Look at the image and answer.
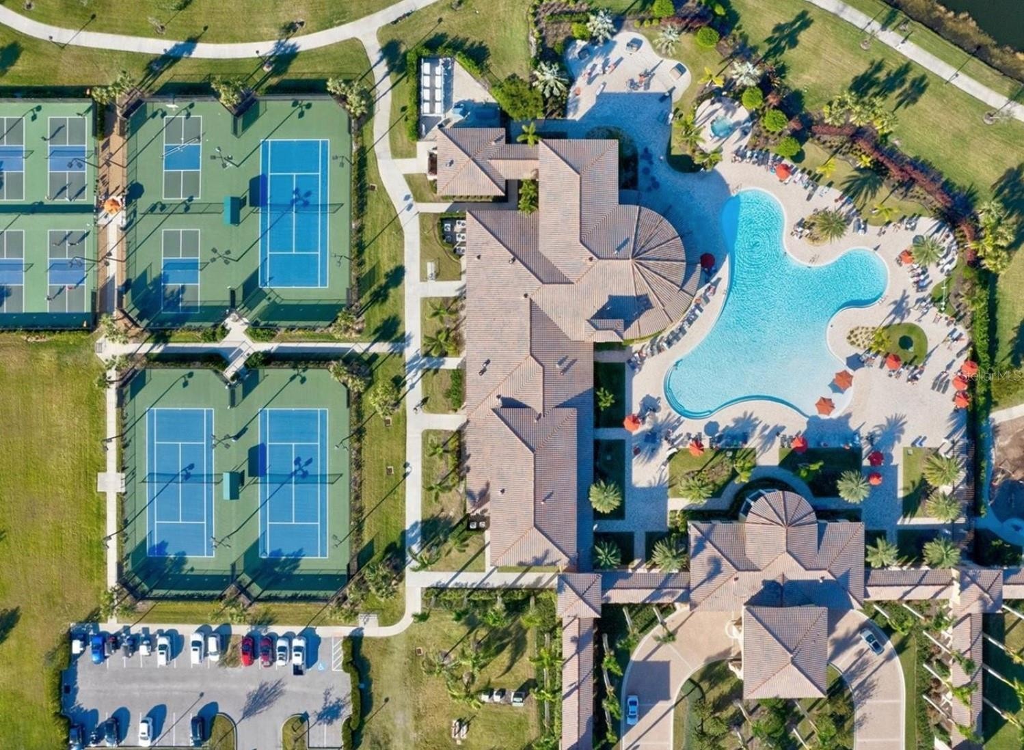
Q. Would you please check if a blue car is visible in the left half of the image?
Yes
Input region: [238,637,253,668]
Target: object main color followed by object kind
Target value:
red car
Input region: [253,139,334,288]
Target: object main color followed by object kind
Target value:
blue tennis court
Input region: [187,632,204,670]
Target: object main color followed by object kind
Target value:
white vehicle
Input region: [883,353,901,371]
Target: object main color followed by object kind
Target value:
red umbrella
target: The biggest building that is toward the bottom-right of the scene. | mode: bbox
[686,483,865,700]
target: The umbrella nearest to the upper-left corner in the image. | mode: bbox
[105,195,123,212]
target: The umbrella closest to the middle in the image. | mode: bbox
[623,414,641,432]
